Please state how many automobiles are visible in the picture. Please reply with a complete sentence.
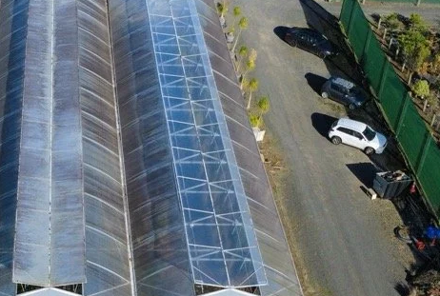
The picture shows 3 automobiles.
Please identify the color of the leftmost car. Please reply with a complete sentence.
In this view, the leftmost car is black.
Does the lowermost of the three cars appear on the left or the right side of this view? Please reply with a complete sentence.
It is on the right.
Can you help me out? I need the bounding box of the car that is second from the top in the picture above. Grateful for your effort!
[316,73,375,111]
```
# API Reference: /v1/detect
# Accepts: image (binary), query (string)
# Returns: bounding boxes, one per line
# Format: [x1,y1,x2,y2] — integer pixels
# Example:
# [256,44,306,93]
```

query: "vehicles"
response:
[288,26,345,59]
[325,114,392,156]
[316,73,375,111]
